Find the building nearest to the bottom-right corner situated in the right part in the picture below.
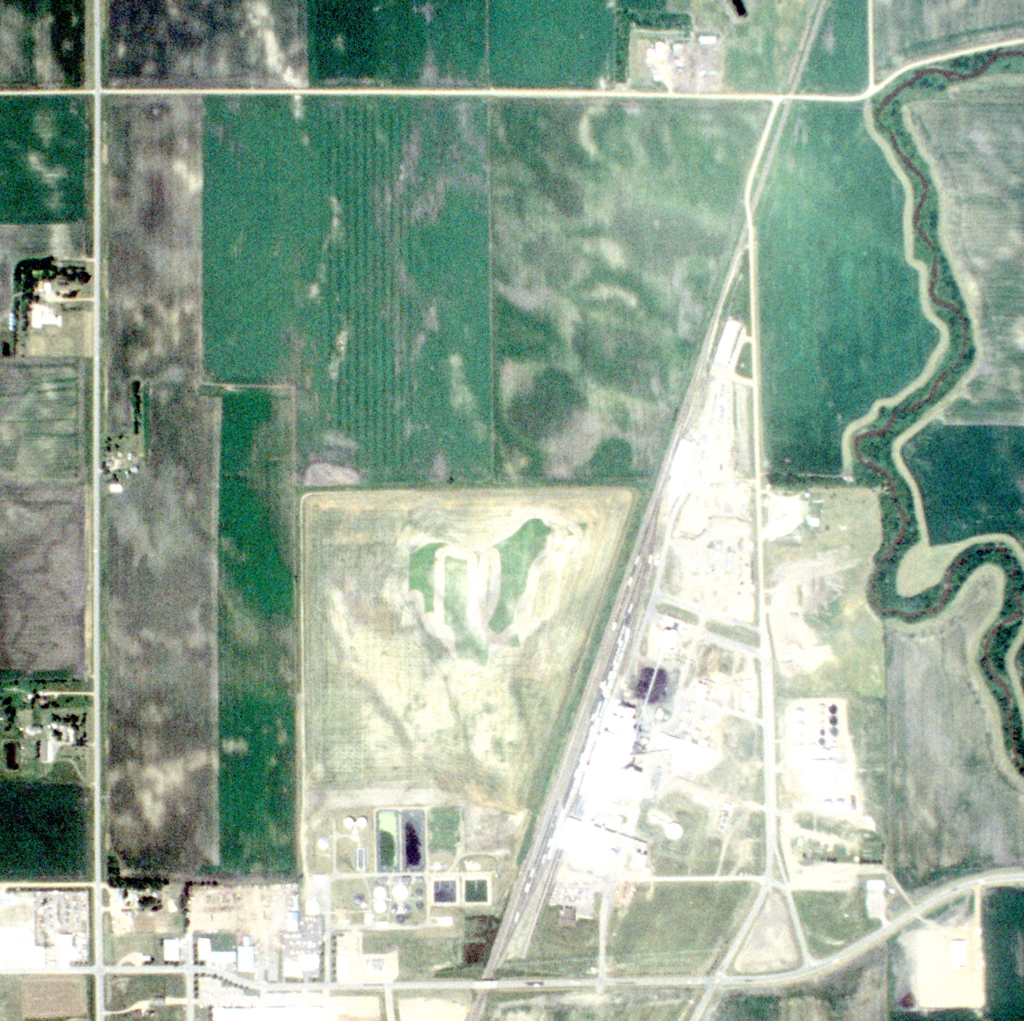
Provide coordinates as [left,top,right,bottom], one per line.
[951,941,967,967]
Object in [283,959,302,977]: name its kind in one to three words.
building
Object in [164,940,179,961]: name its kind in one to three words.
building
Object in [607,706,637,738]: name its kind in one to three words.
house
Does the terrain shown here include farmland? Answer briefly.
Yes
